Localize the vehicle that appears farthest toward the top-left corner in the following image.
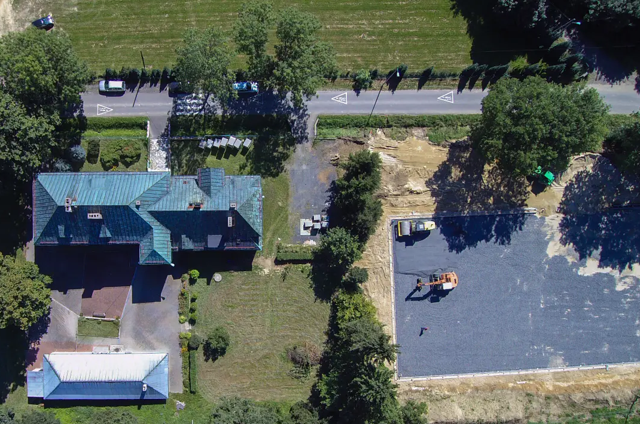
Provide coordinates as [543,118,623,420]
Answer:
[30,15,55,29]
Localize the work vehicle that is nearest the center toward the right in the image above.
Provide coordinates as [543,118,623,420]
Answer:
[401,220,434,235]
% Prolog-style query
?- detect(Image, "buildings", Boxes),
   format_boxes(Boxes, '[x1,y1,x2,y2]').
[28,345,169,401]
[34,168,265,266]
